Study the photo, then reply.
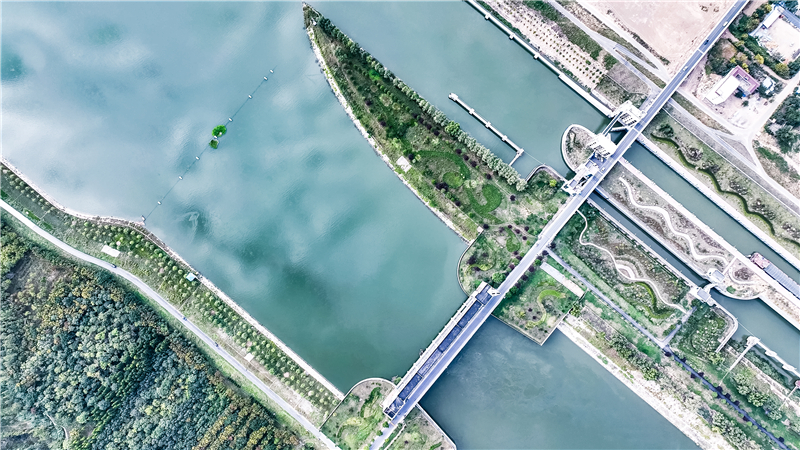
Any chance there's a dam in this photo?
Yes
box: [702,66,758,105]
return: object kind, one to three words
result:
building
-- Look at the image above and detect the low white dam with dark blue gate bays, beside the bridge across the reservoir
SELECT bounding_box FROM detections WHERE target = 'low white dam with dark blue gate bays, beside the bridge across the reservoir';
[380,284,493,420]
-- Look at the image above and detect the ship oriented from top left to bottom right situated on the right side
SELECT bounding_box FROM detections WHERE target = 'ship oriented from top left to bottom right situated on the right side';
[753,252,800,297]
